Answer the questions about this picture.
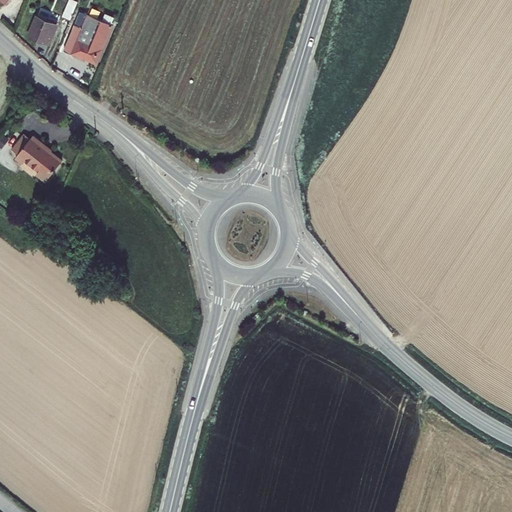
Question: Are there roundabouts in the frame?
Yes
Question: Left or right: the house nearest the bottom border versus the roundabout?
to the left of it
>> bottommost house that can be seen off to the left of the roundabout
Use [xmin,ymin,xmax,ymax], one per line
[12,134,60,182]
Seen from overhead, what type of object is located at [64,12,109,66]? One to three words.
house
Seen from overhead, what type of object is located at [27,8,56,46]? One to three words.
house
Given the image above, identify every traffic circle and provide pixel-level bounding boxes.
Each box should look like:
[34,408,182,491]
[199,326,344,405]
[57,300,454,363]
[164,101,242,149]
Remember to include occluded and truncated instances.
[188,166,308,300]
